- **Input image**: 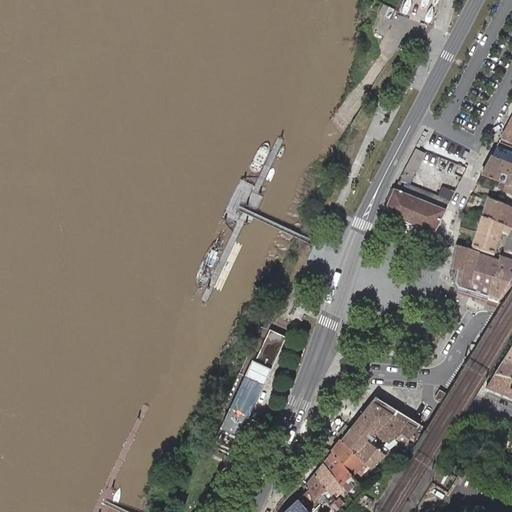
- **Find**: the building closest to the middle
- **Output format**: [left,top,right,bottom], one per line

[256,330,284,368]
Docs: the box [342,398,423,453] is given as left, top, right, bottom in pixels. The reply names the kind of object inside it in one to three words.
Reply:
house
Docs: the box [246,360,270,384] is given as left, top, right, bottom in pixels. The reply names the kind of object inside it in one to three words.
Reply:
building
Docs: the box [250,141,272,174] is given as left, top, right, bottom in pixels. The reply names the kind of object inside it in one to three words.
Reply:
boat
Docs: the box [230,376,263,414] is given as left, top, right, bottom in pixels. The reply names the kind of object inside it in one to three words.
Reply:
building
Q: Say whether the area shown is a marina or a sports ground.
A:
marina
